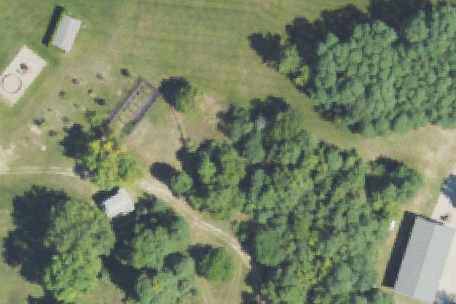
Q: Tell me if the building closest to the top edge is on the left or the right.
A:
left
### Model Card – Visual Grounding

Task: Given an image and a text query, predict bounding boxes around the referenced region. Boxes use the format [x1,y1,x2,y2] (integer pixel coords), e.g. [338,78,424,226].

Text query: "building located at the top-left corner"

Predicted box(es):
[52,16,82,52]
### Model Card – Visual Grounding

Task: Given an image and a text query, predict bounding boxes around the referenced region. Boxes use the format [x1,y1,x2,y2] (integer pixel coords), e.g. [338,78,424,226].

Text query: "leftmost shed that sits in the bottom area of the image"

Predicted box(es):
[103,189,134,217]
